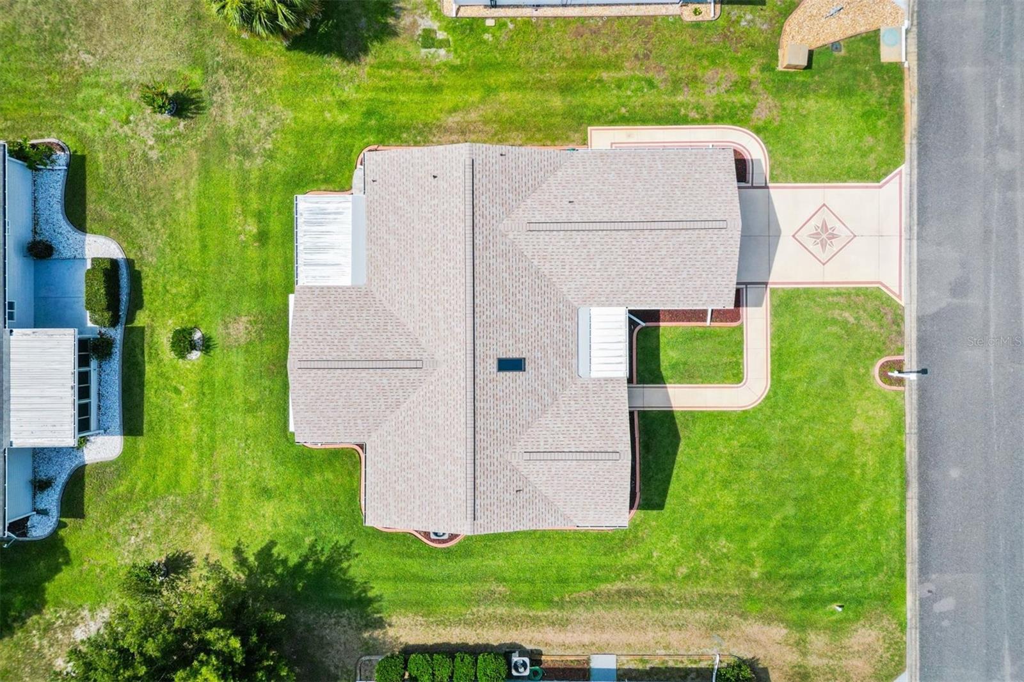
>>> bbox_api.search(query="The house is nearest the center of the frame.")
[287,142,741,535]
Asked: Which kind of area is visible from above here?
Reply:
residential area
